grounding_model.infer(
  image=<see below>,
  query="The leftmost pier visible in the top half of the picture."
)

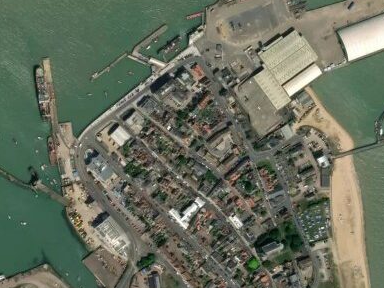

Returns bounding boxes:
[43,57,59,130]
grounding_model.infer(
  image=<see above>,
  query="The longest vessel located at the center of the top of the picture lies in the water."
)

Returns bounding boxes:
[158,37,182,55]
